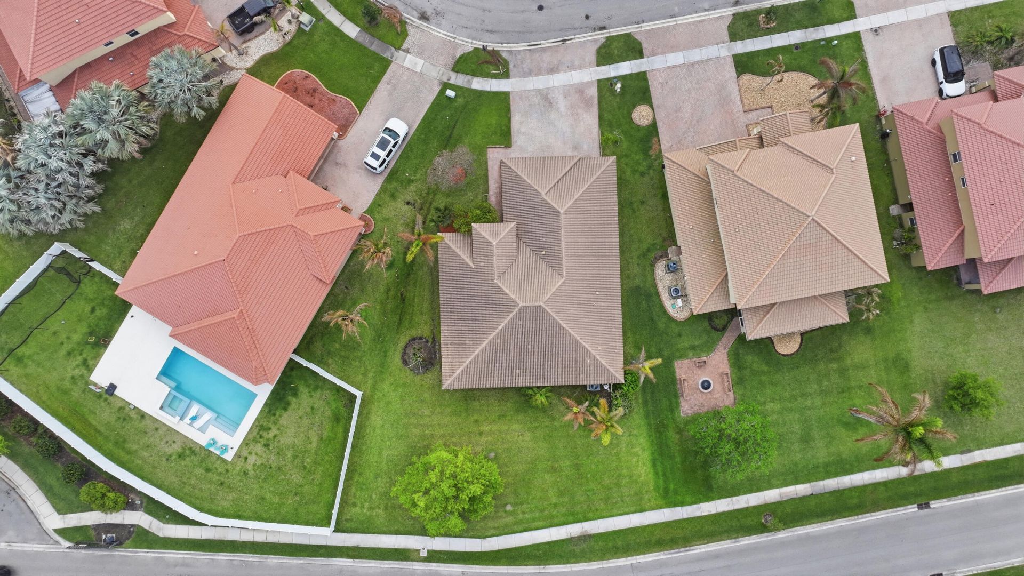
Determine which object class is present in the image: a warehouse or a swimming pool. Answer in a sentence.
It is a swimming pool that can be seen here.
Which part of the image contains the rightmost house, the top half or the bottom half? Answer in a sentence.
The top half of the photo is where the rightmost house is.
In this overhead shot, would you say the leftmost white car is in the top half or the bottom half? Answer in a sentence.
The leftmost white car sits in the top half of the picture.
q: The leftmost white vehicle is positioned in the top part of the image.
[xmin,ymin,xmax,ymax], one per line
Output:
[364,118,407,175]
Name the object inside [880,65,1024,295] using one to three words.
house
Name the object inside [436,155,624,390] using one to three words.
house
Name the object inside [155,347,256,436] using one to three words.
swimming pool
